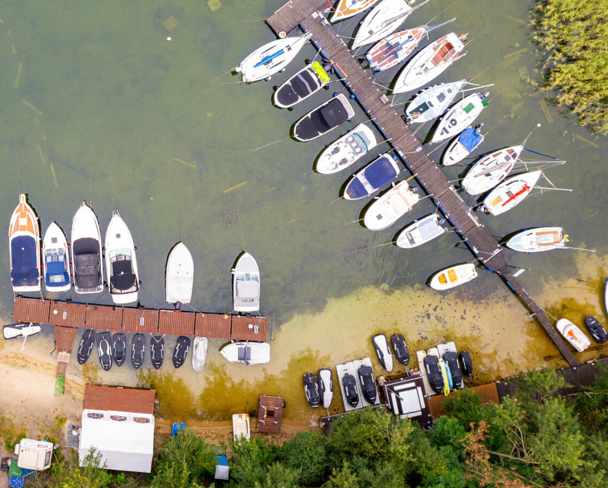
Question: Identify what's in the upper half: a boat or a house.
boat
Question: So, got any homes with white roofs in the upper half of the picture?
No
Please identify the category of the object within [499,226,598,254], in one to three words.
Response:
boat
